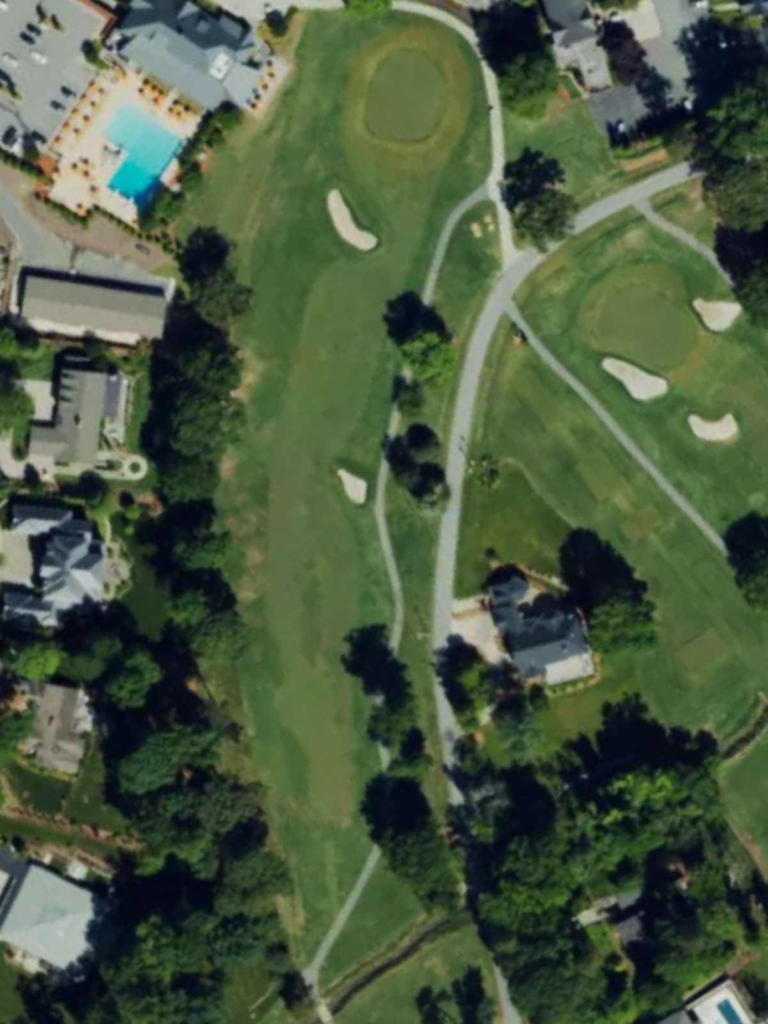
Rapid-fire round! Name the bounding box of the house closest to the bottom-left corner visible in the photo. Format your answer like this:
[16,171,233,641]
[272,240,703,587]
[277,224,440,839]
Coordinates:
[0,848,97,969]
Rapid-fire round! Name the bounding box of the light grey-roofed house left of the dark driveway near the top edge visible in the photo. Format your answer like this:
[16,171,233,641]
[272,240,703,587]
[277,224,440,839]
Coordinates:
[545,0,614,90]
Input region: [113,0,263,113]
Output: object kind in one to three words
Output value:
building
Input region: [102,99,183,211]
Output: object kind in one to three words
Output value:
swimming pool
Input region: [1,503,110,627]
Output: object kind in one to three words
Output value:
house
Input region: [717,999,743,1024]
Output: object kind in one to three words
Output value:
swimming pool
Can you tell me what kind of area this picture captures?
golf course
